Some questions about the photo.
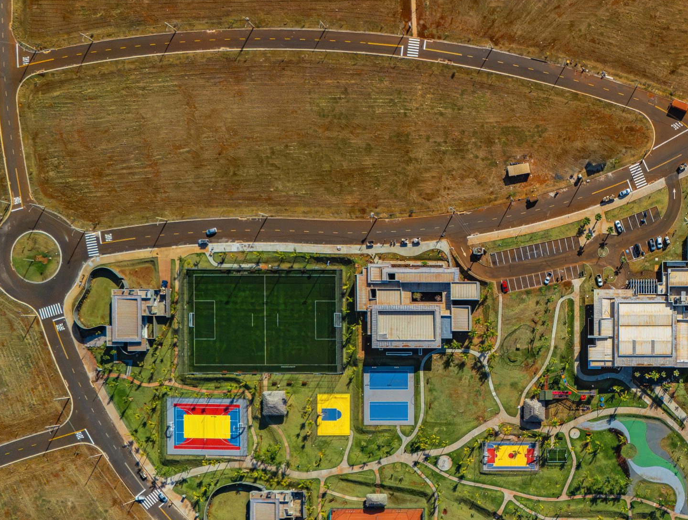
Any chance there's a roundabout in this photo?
Yes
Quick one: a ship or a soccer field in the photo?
soccer field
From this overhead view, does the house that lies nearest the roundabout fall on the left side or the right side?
left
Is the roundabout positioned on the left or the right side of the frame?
left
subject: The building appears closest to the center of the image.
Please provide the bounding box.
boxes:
[356,264,481,355]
